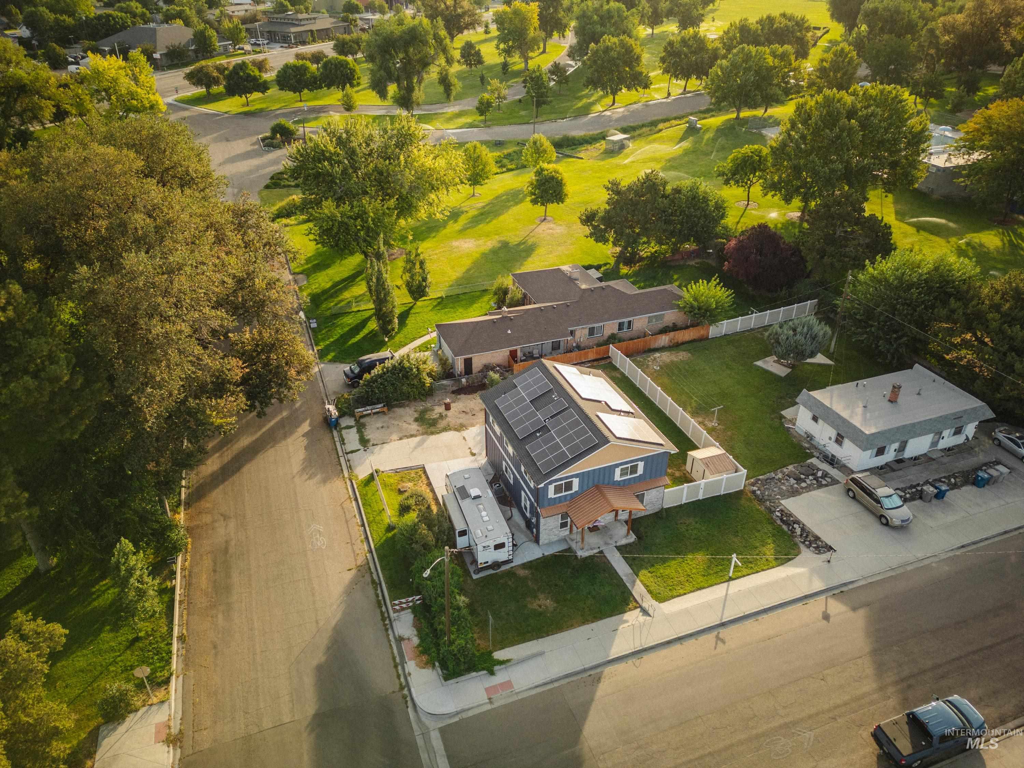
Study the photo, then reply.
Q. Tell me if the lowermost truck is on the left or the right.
right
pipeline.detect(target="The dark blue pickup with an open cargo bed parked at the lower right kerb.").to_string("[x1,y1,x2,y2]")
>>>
[871,696,985,765]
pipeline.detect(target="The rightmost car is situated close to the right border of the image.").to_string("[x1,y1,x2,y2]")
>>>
[991,424,1024,456]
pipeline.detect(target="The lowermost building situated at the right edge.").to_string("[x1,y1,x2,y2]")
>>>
[795,364,997,474]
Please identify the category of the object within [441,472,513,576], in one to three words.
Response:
vehicle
